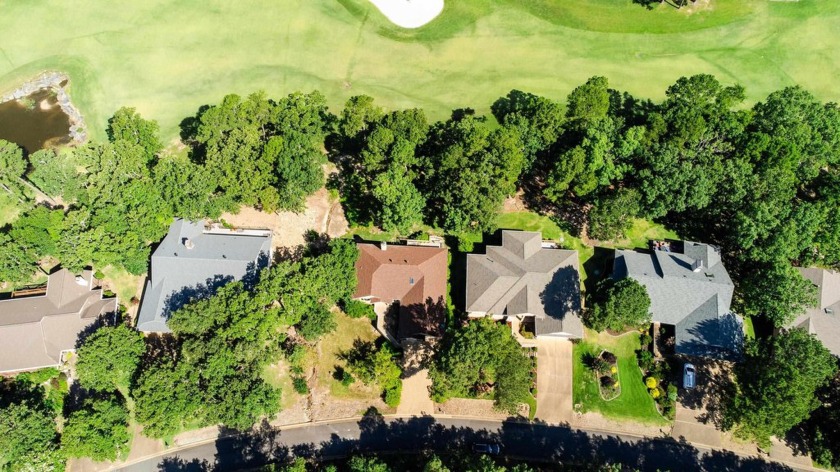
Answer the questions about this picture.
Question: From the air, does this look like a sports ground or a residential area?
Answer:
residential area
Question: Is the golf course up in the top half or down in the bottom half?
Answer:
top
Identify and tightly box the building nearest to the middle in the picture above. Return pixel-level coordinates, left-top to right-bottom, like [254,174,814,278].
[353,234,447,337]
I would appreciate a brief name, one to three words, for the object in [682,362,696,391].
car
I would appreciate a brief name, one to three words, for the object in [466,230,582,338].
house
